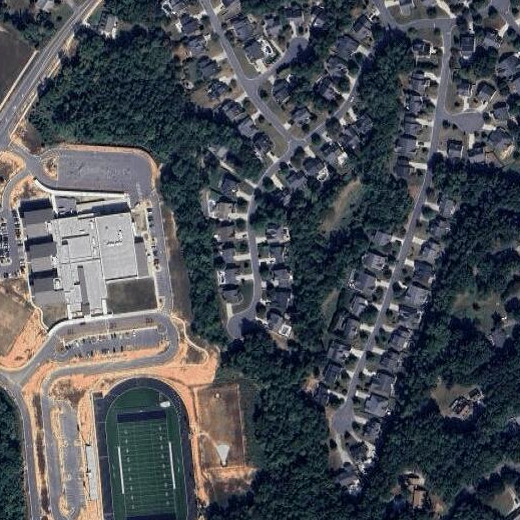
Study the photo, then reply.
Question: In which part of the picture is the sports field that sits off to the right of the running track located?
bottom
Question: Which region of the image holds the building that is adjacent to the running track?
left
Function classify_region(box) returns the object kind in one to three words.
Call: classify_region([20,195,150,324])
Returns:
building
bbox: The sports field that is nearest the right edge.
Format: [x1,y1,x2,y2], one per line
[197,386,245,467]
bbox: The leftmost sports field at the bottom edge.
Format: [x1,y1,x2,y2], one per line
[105,386,188,520]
